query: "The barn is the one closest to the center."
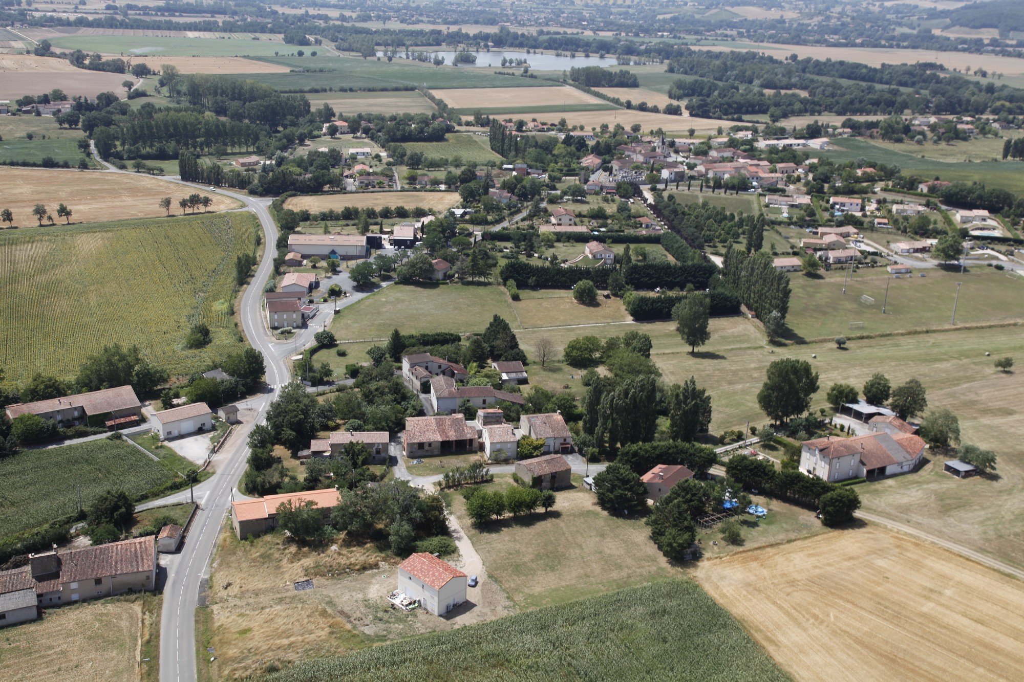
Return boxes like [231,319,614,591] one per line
[497,361,532,388]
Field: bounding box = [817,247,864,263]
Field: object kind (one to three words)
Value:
house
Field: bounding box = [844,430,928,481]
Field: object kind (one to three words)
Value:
barn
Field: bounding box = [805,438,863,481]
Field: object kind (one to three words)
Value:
house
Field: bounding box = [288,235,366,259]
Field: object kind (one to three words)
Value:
building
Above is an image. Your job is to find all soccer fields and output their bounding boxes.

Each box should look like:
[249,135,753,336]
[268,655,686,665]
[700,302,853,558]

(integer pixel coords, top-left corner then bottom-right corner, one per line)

[785,270,1024,343]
